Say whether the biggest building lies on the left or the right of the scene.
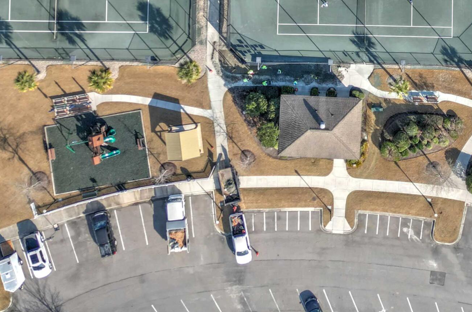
right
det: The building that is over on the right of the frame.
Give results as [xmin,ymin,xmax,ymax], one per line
[277,95,362,160]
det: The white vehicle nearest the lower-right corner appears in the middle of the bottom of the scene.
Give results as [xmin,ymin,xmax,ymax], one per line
[227,210,251,266]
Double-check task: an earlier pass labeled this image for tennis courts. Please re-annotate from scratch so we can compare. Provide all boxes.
[229,0,472,67]
[0,0,195,64]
